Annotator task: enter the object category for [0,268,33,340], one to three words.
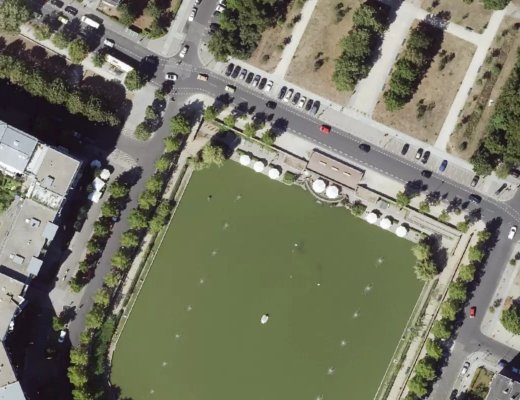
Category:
building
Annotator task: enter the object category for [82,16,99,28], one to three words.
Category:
vehicle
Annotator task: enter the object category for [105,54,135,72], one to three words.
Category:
vehicle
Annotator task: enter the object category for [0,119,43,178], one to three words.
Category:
building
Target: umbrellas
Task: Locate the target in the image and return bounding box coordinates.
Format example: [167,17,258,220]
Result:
[269,169,279,179]
[94,179,105,189]
[100,169,110,180]
[396,226,407,237]
[326,185,339,198]
[253,161,264,172]
[91,159,101,169]
[313,180,326,192]
[240,155,250,165]
[367,213,377,223]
